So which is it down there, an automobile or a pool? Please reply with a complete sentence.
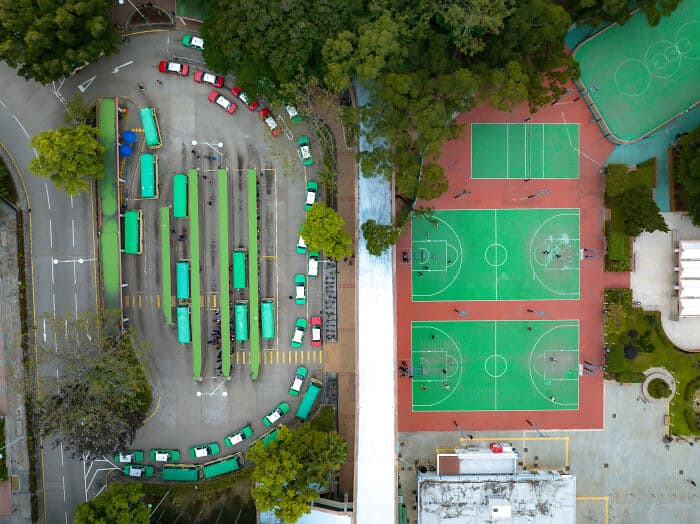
It is an automobile that can be seen here.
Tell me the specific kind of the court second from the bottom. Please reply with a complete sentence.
The court second from the bottom appears to be a basketball court.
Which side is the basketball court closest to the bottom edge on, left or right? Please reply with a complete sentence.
The basketball court closest to the bottom edge appears in the right half of the scene.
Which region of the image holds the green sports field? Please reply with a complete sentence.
The green sports field is located in the top right region of the scene.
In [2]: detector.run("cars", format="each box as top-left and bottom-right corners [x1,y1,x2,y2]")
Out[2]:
[125,462,155,477]
[299,137,314,166]
[190,441,221,458]
[260,108,282,137]
[289,366,308,397]
[280,97,304,126]
[291,318,306,348]
[262,401,291,426]
[195,71,225,88]
[296,225,308,255]
[306,182,318,211]
[310,316,323,346]
[209,92,238,115]
[308,251,320,279]
[224,424,254,447]
[232,87,260,112]
[294,275,306,304]
[116,449,146,463]
[150,448,180,463]
[160,61,190,77]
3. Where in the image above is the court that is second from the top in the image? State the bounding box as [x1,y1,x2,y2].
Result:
[412,208,580,301]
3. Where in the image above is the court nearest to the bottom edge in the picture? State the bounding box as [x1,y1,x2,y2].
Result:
[412,320,580,411]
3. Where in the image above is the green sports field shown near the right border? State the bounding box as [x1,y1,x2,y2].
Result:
[580,0,700,139]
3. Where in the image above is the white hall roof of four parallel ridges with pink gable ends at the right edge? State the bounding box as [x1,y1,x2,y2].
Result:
[664,240,700,318]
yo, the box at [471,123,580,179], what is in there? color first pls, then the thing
green sports court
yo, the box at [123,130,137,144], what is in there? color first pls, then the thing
blue umbrella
